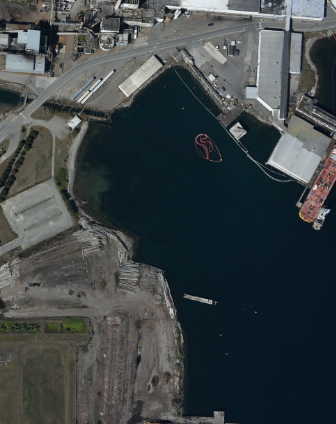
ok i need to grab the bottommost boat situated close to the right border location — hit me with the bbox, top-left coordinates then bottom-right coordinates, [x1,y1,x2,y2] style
[313,209,327,230]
